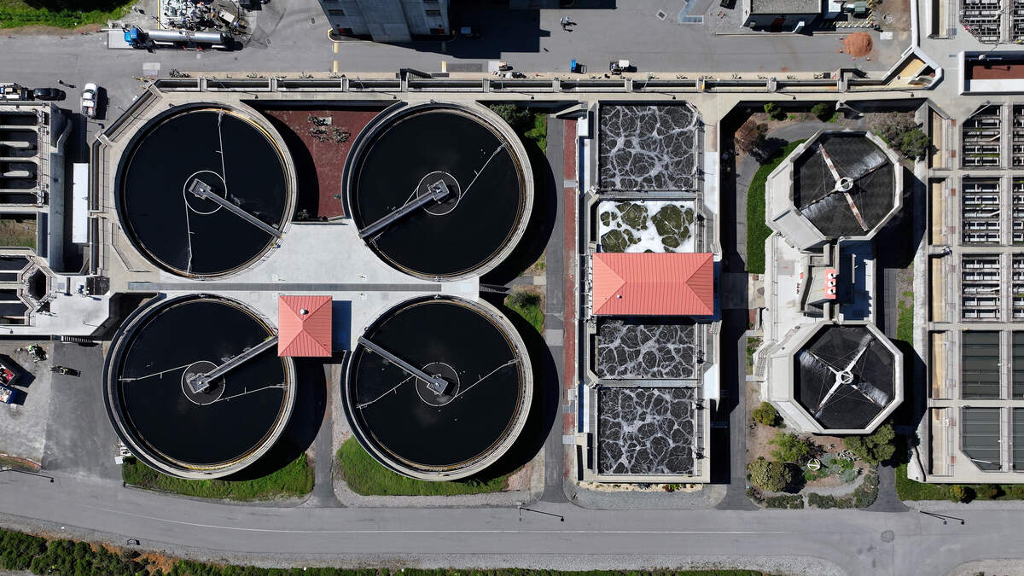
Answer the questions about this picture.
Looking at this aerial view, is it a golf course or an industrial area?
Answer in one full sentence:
This image shows an industrial area.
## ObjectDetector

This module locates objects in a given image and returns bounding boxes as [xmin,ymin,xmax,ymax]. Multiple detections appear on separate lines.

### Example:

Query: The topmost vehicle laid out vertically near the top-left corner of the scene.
[80,83,98,118]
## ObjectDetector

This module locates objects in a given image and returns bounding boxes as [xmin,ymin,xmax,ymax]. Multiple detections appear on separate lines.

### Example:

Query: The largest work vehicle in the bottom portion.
[25,348,44,365]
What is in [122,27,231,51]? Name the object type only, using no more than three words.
truck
